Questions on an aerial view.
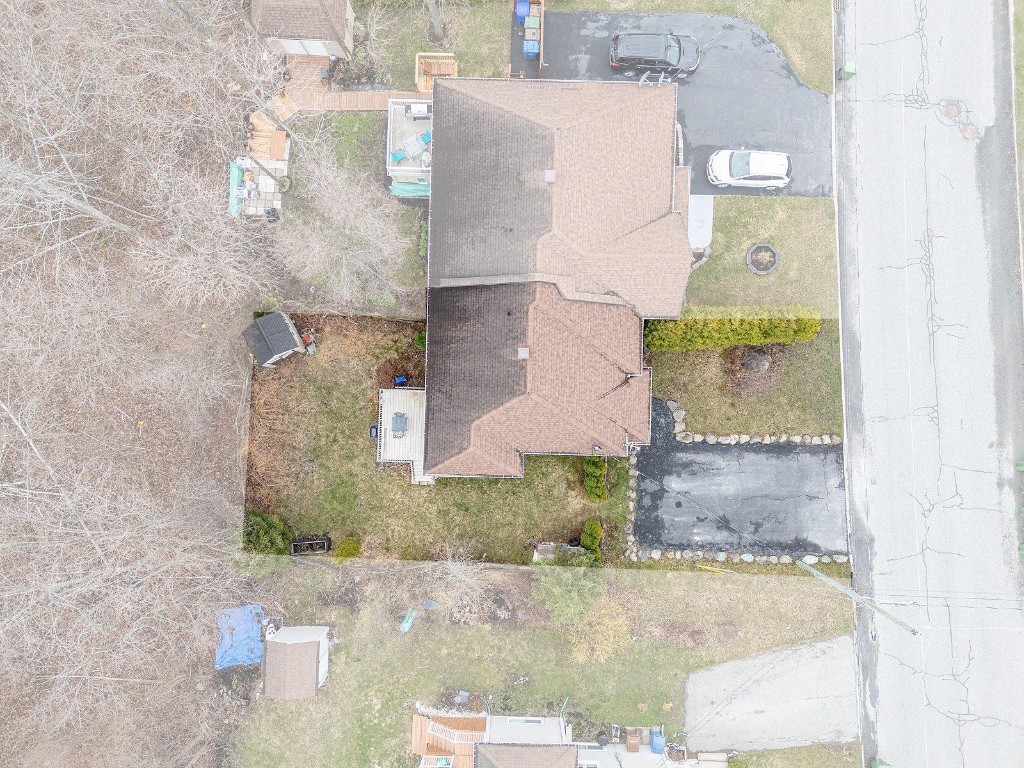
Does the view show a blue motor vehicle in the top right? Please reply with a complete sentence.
No, I see no blue motor vehicle in the top right.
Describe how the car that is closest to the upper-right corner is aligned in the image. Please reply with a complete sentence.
The car that is closest to the upper-right corner runs horizontally in the image.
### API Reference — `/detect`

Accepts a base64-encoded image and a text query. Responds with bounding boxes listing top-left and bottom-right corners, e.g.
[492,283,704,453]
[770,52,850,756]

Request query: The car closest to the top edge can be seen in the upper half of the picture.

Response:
[609,28,699,79]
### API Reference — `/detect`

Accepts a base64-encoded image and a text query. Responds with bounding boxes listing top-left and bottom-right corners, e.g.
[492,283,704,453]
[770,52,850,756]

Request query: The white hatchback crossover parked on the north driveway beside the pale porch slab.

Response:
[706,143,796,190]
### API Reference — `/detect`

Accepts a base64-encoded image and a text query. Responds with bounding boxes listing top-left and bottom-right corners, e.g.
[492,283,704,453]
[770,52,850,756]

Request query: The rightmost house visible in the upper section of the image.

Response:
[424,71,693,478]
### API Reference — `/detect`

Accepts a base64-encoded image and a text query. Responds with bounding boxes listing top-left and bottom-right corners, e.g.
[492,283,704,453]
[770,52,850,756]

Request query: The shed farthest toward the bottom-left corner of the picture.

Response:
[263,626,329,699]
